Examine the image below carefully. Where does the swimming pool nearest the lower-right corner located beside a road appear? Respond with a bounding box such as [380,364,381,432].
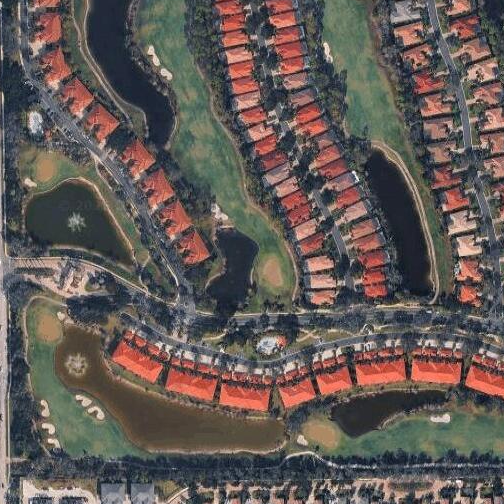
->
[257,335,278,354]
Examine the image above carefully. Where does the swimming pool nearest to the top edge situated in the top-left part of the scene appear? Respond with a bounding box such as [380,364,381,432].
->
[28,110,43,134]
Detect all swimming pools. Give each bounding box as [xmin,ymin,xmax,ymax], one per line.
[257,335,278,354]
[28,110,43,134]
